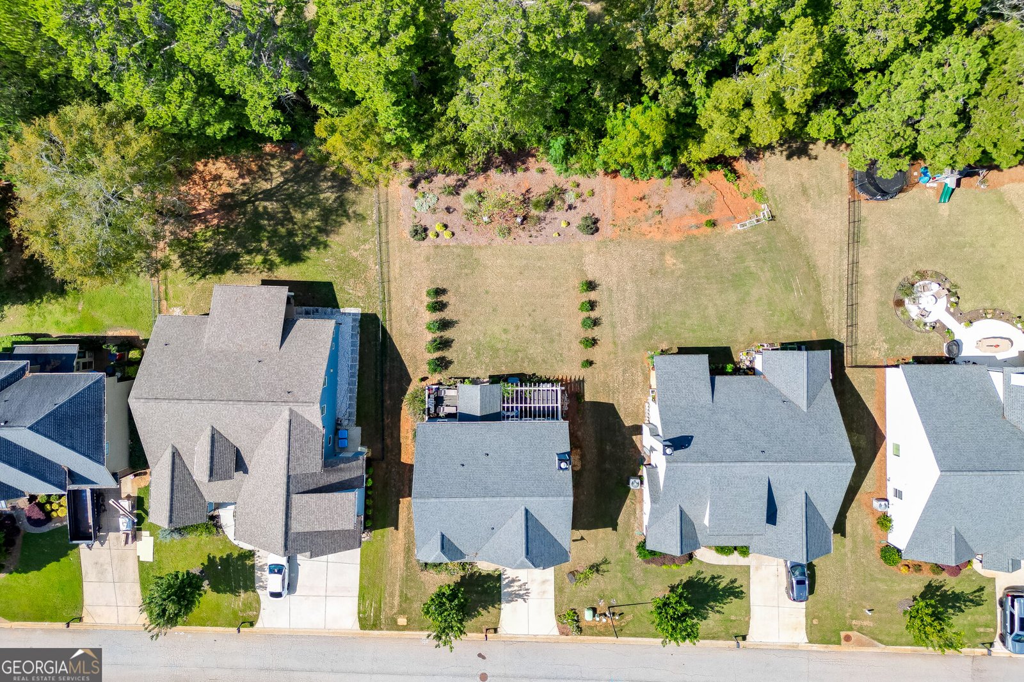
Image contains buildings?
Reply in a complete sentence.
Yes, looking at the shot, I can spot a building.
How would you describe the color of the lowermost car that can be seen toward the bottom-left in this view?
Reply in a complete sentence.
The lowermost car that can be seen toward the bottom-left looks white in the image.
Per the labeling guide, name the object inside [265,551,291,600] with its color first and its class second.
white car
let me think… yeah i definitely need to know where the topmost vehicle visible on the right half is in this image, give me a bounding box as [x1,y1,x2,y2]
[782,559,809,602]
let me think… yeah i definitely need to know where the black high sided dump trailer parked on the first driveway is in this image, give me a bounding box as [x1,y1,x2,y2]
[68,488,109,553]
